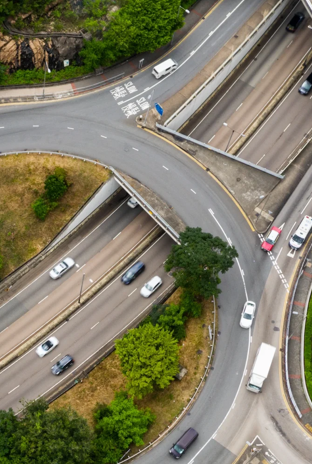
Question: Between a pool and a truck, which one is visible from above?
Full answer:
The image shows a truck.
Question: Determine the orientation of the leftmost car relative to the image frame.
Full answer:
I'd say the leftmost car is aligned on a diagonal in the picture.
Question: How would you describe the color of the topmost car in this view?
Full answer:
The color of the topmost car is black.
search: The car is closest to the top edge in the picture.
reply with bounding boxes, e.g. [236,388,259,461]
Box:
[285,13,305,34]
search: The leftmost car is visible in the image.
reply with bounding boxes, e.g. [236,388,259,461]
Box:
[34,335,62,359]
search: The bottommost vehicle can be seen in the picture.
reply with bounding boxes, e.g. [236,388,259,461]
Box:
[169,427,198,461]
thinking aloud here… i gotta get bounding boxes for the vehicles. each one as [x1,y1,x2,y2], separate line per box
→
[239,298,257,331]
[150,58,177,80]
[243,338,276,395]
[34,335,62,359]
[261,226,282,253]
[123,196,139,212]
[298,71,312,96]
[285,13,305,34]
[286,212,312,253]
[49,352,77,378]
[139,274,164,300]
[169,427,198,461]
[49,256,76,282]
[121,261,147,286]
